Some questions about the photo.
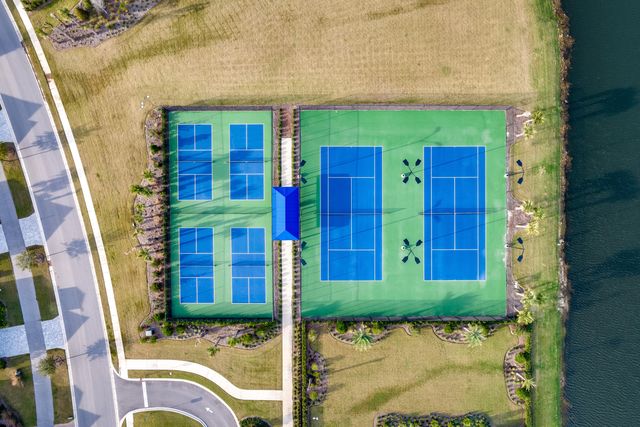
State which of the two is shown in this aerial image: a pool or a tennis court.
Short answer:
tennis court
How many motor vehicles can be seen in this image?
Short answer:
none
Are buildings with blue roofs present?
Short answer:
Yes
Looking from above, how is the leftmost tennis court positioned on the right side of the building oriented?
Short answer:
vertically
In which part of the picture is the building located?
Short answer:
center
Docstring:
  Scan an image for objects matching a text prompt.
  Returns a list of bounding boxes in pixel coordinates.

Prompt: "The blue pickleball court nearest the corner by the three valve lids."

[178,124,213,200]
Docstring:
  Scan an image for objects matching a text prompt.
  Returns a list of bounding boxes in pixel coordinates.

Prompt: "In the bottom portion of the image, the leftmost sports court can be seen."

[179,228,214,303]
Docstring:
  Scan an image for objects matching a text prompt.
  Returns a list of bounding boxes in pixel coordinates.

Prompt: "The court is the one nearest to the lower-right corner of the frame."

[423,146,486,281]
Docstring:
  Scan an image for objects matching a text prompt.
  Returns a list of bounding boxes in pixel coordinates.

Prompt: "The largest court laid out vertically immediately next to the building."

[321,146,382,281]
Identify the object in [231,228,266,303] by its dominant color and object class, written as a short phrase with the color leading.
blue sports court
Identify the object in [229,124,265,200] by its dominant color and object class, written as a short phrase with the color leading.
blue sports court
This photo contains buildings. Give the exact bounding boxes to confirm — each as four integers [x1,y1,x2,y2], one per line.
[272,187,299,240]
